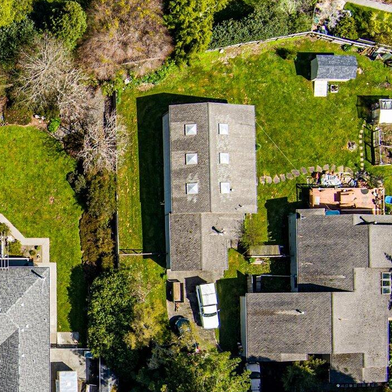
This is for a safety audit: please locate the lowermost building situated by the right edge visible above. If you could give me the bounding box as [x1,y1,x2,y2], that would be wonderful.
[238,209,392,383]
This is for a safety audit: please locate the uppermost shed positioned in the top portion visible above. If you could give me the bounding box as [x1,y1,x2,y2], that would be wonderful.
[300,56,356,96]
